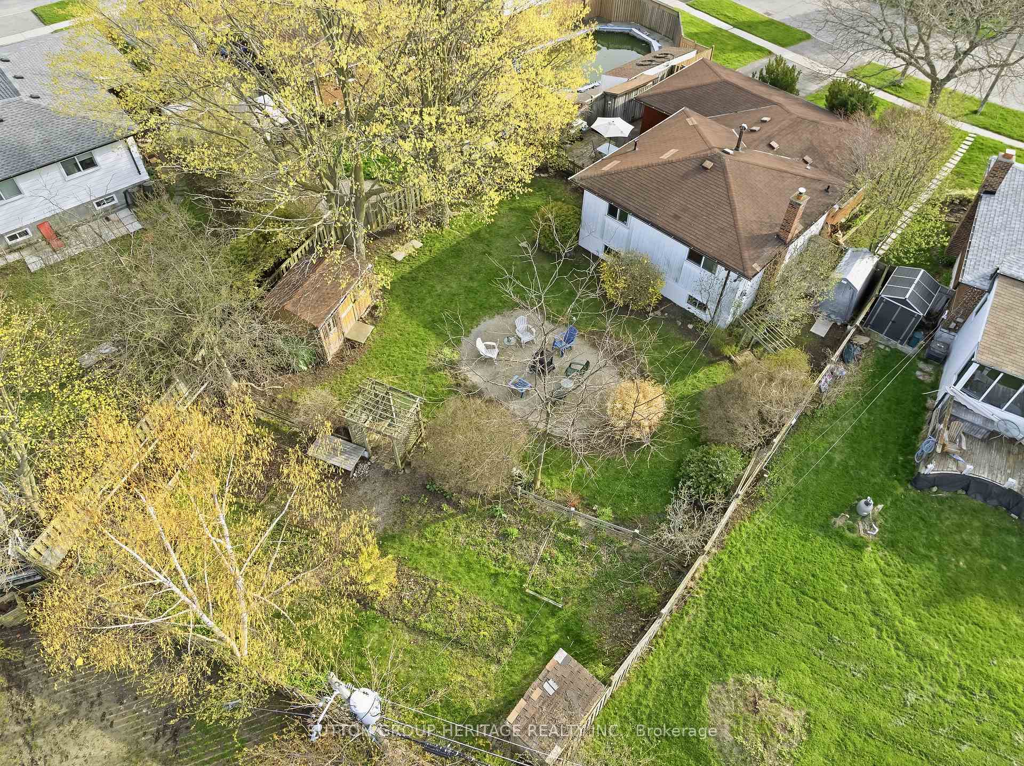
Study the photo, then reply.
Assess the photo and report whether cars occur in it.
No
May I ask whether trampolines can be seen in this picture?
No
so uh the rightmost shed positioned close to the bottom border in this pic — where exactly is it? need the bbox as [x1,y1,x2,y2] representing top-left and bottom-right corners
[492,644,608,766]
